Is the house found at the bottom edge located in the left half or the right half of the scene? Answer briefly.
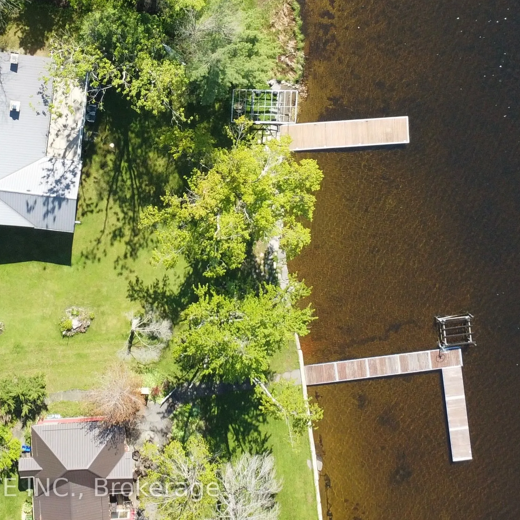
left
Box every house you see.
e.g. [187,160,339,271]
[0,47,90,235]
[19,417,135,520]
